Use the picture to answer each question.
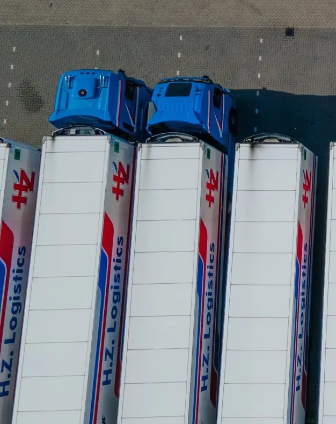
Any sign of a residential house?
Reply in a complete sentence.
No, no residential house is visible in the view.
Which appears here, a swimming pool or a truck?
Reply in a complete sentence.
The one in the frame is a truck.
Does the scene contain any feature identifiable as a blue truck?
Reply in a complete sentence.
Yes, there's a blue truck down there.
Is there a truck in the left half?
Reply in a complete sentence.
Yes, a truck can be seen in the left half.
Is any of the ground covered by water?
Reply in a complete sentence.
No, the scene doesn't show any water.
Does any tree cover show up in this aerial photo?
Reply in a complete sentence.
No, there's no tree cover in this view.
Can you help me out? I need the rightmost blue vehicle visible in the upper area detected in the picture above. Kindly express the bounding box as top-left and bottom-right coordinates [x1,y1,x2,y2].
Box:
[146,75,235,219]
